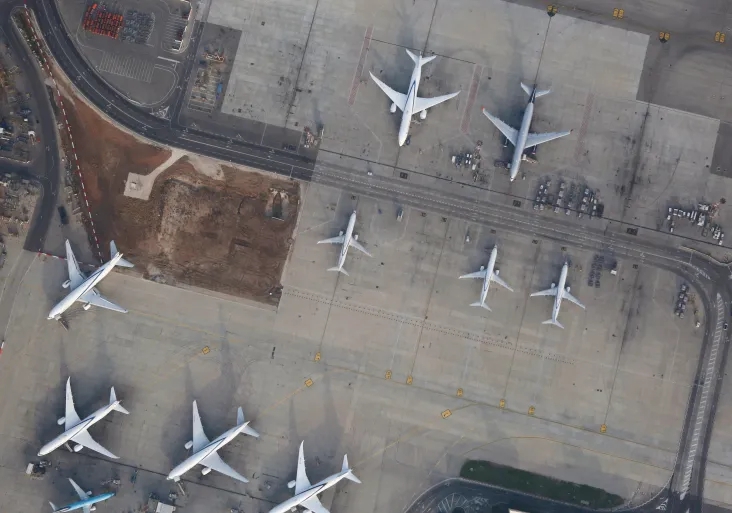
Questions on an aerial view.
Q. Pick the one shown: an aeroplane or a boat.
aeroplane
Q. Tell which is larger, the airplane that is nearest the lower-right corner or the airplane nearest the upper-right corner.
the airplane nearest the upper-right corner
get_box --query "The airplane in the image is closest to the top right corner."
[481,84,573,181]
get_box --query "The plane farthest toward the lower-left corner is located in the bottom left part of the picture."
[49,479,114,513]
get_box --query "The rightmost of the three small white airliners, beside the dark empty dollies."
[530,263,586,327]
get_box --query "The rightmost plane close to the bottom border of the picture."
[279,447,360,513]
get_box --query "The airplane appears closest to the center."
[317,211,372,274]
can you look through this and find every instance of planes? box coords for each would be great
[317,211,372,274]
[279,447,360,513]
[48,239,133,319]
[167,399,258,480]
[38,377,129,458]
[530,263,586,327]
[481,84,573,181]
[459,246,515,309]
[49,479,114,513]
[369,50,460,146]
